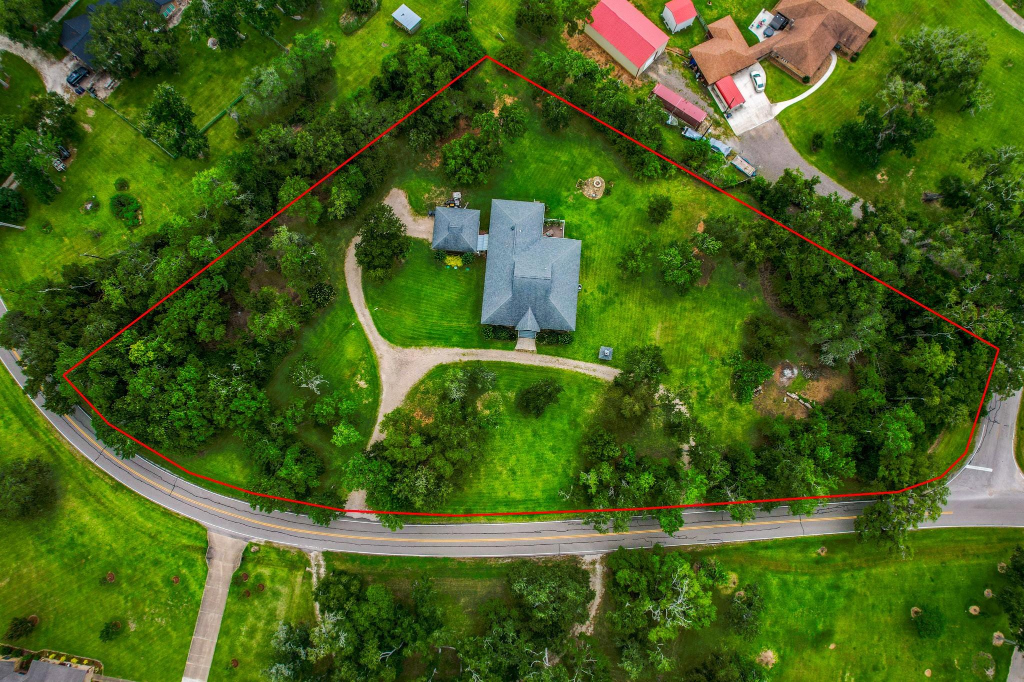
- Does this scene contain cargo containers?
Yes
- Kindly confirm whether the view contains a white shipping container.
No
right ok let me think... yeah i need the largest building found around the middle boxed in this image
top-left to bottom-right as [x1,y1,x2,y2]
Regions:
[481,197,582,340]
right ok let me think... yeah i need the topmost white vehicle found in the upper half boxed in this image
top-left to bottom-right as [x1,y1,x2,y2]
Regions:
[750,69,764,91]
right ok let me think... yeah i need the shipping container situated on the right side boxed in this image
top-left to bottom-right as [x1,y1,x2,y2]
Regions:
[651,84,707,126]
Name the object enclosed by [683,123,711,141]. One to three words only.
boat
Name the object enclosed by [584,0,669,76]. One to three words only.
barn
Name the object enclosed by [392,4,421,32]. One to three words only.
shed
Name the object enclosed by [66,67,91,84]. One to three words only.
car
